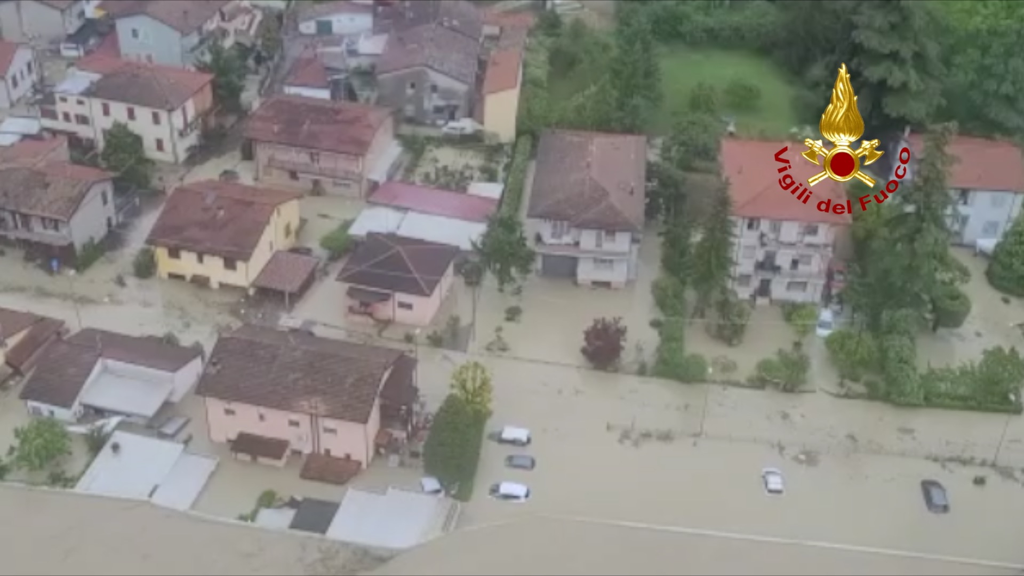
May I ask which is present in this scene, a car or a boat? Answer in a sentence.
I can see a car in this picture.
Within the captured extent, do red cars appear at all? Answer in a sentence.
No, I can't see a single red car in this photo.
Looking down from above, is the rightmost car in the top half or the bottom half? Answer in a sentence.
You can find the rightmost car in the bottom half.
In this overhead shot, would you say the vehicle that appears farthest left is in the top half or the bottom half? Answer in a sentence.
It is in the top half that the vehicle that appears farthest left appears.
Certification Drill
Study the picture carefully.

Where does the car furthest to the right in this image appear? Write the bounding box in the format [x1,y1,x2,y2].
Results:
[919,480,953,518]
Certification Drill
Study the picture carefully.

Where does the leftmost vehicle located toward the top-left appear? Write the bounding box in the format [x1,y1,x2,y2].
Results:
[58,37,85,58]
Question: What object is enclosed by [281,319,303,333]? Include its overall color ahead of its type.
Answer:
white car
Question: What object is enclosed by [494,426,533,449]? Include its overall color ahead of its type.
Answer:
white vehicle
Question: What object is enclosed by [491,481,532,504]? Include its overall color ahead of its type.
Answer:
white car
